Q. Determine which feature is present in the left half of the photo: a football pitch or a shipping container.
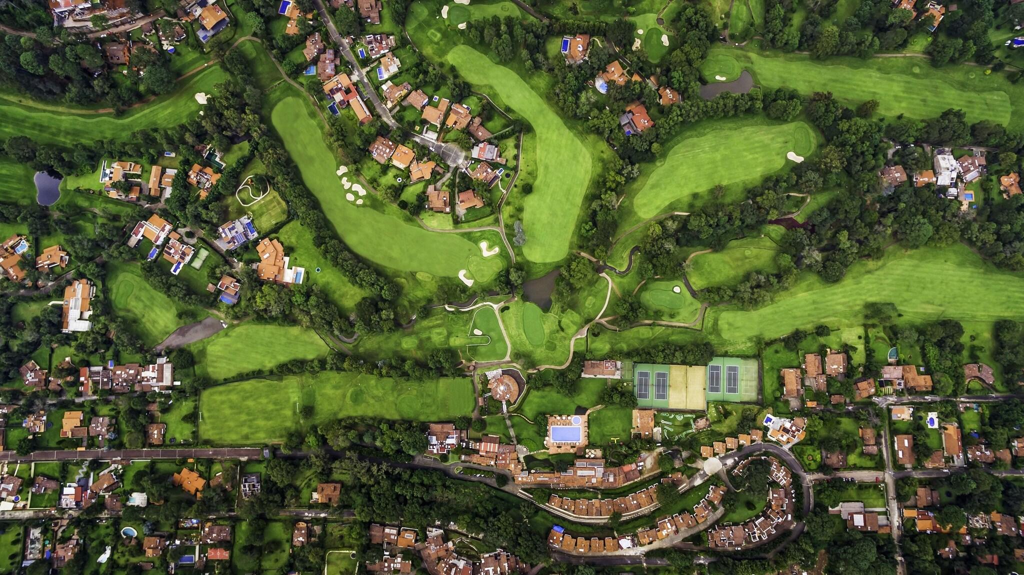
football pitch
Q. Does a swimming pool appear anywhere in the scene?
Yes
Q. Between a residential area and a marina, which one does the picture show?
residential area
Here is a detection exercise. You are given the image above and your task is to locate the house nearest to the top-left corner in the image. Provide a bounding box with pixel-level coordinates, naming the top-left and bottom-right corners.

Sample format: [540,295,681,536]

[50,0,102,28]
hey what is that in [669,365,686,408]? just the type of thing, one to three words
tennis court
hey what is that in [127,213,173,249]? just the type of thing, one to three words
house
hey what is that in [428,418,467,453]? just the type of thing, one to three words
building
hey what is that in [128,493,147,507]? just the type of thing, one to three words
swimming pool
